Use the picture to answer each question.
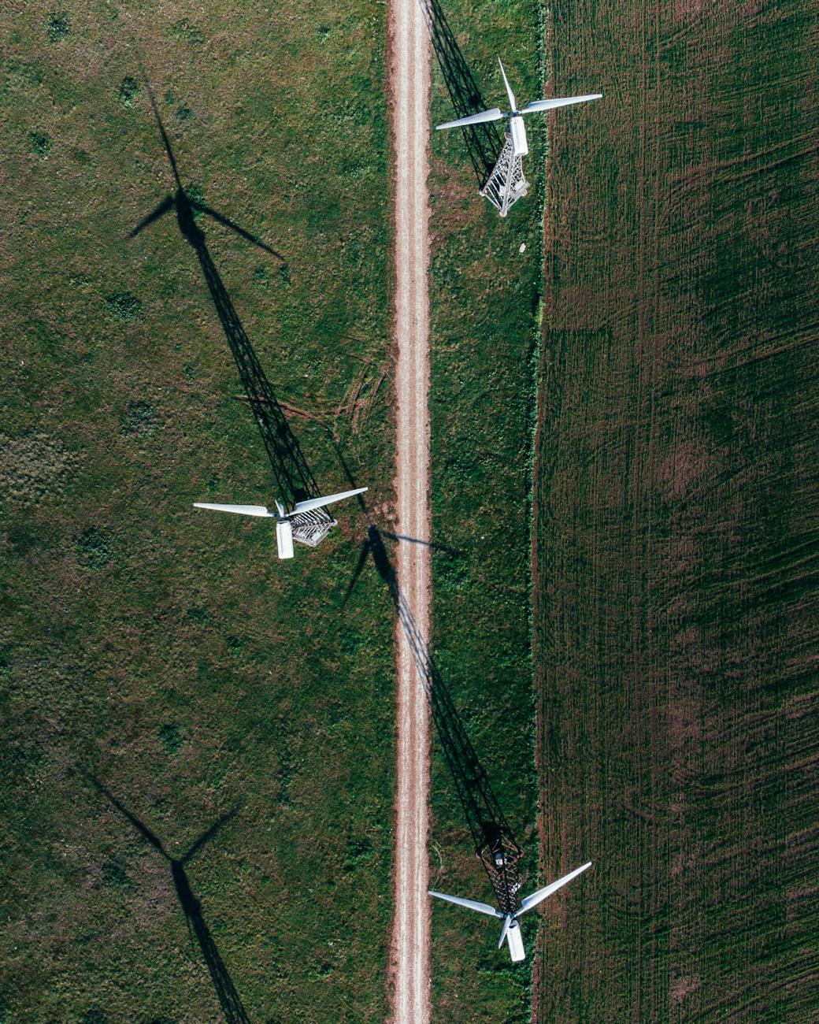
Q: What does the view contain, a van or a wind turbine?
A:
wind turbine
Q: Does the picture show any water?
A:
No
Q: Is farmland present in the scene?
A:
Yes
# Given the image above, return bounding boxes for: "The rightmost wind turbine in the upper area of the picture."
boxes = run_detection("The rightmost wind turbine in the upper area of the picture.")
[435,61,605,219]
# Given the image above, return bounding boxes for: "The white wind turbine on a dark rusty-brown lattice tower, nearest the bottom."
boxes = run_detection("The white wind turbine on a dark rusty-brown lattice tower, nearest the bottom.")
[429,827,591,960]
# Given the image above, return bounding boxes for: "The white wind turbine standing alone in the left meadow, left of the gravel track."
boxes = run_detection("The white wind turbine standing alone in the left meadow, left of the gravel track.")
[197,489,364,557]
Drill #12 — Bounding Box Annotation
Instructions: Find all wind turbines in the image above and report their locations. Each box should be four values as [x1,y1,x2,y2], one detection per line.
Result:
[429,827,591,960]
[435,61,605,219]
[197,489,364,557]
